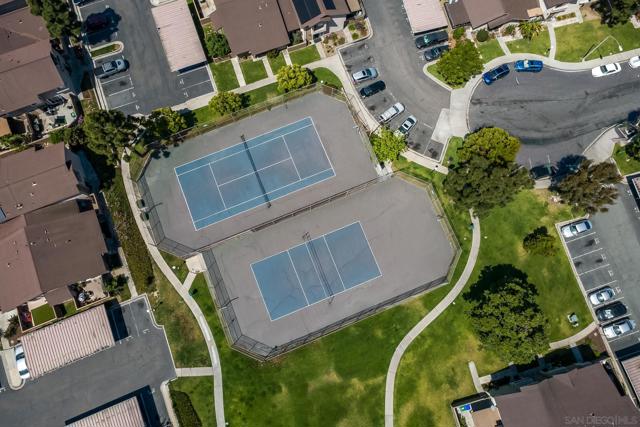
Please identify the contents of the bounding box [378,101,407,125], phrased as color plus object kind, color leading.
white car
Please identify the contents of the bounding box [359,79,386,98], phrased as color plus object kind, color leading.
black car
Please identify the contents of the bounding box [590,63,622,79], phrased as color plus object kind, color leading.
white car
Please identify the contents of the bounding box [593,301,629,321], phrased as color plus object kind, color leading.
black car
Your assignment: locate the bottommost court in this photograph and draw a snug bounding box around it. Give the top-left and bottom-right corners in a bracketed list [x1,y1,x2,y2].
[202,171,461,361]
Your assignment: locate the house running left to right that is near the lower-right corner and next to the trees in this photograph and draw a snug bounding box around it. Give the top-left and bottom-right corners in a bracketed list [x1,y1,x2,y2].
[484,361,640,427]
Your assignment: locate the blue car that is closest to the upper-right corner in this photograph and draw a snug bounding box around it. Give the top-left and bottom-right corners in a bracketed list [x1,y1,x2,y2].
[514,58,543,74]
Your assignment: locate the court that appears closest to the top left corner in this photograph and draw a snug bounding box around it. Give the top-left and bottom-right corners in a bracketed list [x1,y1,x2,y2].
[136,86,379,256]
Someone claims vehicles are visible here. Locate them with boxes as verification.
[351,66,379,84]
[422,43,448,62]
[585,286,618,306]
[600,316,635,338]
[481,64,510,84]
[394,113,419,138]
[590,63,622,79]
[359,79,386,98]
[593,301,629,321]
[627,56,640,70]
[378,101,407,125]
[11,346,29,380]
[529,164,555,179]
[560,219,594,238]
[414,30,449,50]
[514,58,543,74]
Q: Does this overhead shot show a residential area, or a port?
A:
residential area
